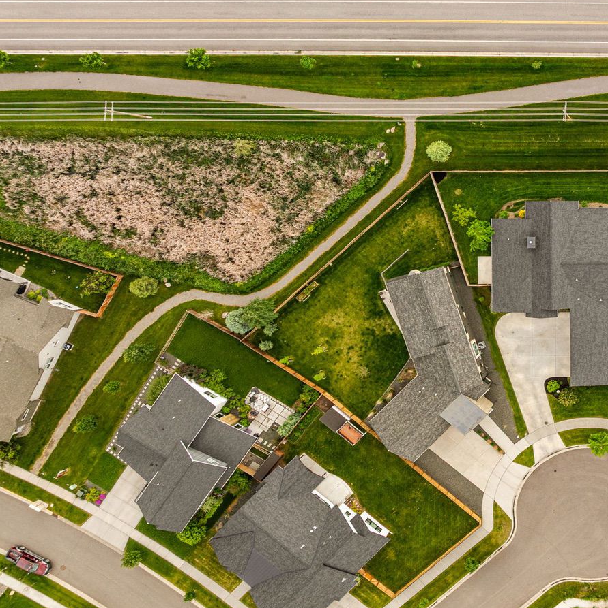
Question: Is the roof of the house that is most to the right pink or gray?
gray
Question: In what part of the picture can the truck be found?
bottom left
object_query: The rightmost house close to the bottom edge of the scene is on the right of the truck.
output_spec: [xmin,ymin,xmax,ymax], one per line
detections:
[210,456,395,608]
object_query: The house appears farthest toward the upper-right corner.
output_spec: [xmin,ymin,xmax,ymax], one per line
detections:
[492,201,608,386]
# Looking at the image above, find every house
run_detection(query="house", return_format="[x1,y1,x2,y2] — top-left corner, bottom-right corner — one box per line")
[369,266,493,463]
[210,456,395,608]
[0,267,91,441]
[116,373,258,532]
[492,201,608,386]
